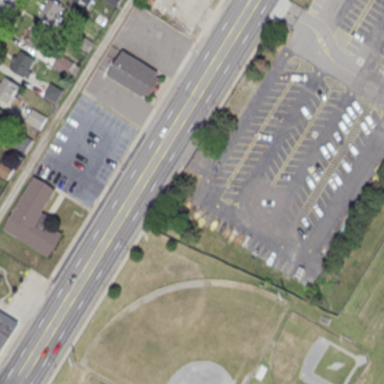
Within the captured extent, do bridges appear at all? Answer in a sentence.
No, I can't see a single bridge in this photo.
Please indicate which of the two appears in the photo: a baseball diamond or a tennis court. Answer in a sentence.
The image shows a baseball diamond.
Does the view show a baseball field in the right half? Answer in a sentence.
Yes, there is a baseball field in the right half.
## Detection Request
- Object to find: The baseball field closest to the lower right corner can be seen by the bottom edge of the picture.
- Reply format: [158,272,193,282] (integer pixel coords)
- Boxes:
[300,338,368,384]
